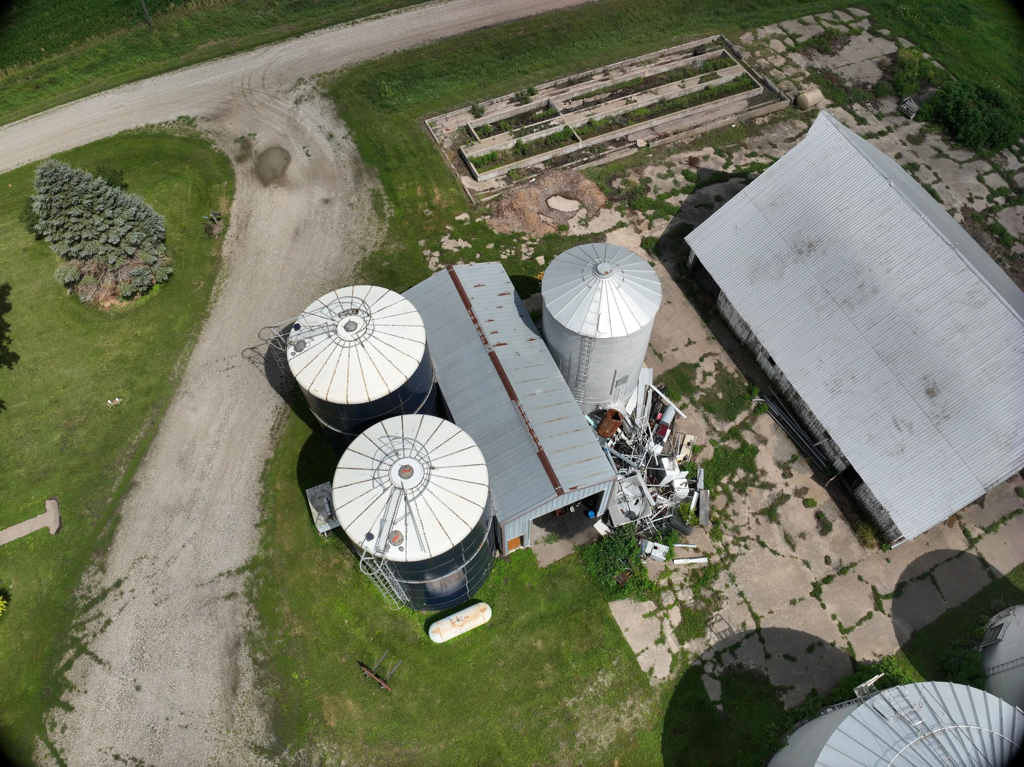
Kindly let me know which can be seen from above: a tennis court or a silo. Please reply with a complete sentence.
Visible in the photo is a silo.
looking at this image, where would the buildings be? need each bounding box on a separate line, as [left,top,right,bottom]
[399,259,621,559]
[683,99,1024,551]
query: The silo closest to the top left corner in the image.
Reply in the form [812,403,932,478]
[255,286,442,462]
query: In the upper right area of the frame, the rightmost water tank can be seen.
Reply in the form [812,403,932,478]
[792,84,825,109]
